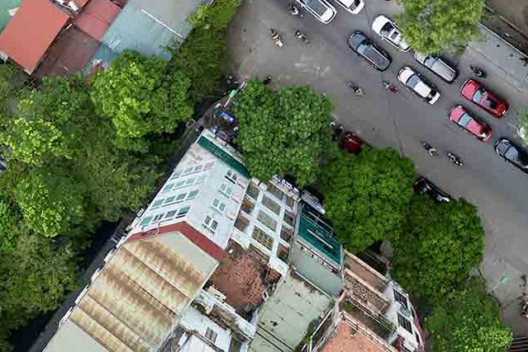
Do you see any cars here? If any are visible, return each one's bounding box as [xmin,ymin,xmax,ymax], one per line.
[370,13,415,56]
[334,0,368,18]
[293,0,339,27]
[458,74,512,123]
[411,172,458,210]
[491,134,528,177]
[334,118,377,159]
[411,45,461,87]
[346,27,396,75]
[446,101,496,146]
[394,62,444,110]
